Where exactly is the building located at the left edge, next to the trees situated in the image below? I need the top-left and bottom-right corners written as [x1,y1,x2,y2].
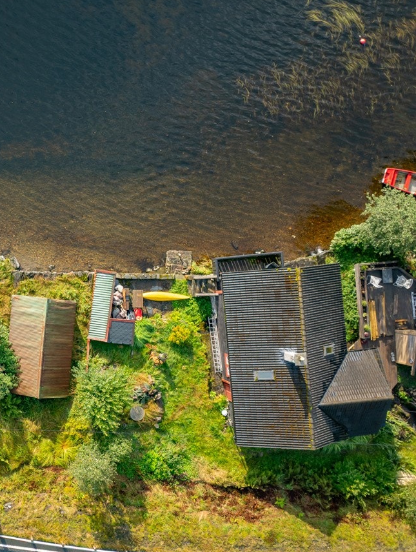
[11,296,76,398]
